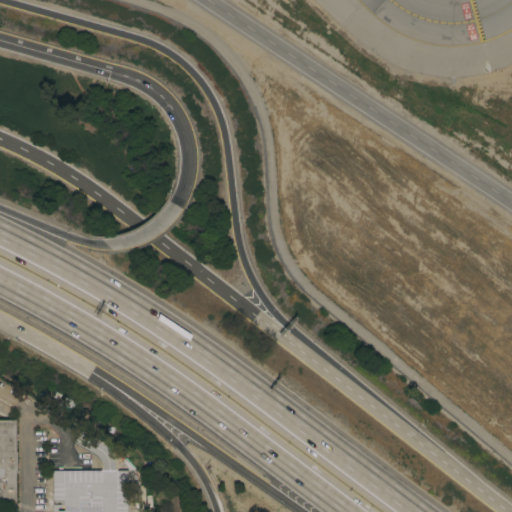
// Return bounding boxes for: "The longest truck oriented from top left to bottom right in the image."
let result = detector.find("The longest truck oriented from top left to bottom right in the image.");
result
[151,310,194,340]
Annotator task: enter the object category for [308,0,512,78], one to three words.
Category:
airport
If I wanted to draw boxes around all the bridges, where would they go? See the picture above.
[103,198,186,251]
